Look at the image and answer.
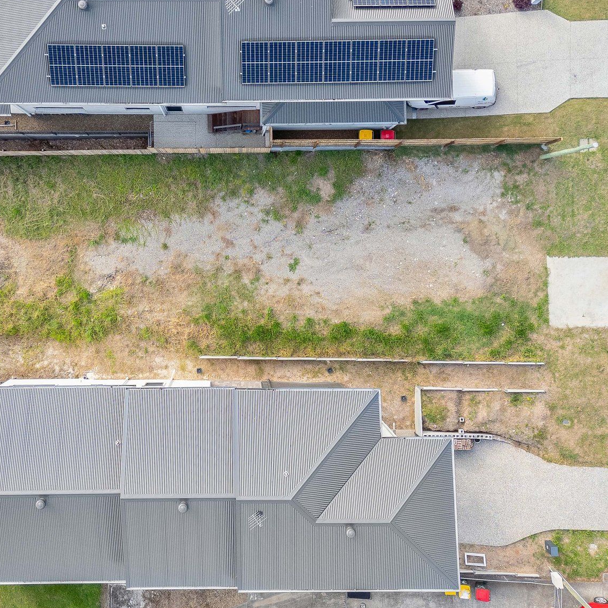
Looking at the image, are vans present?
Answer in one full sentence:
Yes, the frame does contain a van.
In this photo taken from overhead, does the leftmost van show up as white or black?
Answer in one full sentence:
From above, the leftmost van appears white.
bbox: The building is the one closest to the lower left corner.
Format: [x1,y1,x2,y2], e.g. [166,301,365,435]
[0,369,463,594]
